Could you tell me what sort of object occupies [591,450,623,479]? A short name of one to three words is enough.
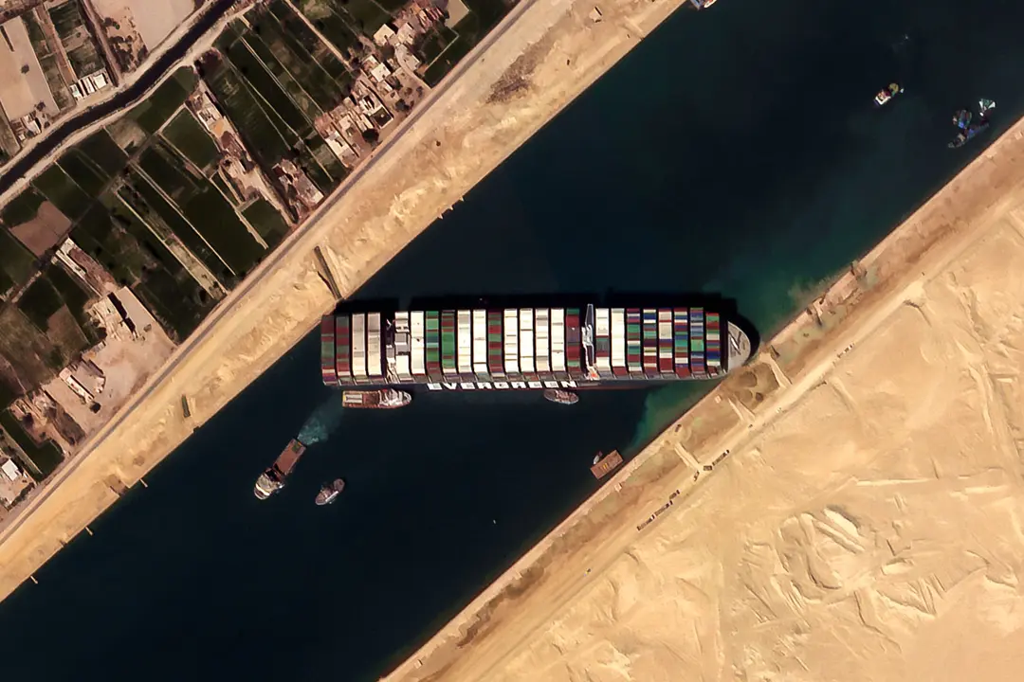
ship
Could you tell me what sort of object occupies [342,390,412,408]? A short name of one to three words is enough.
vessel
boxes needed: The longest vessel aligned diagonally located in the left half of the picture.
[257,437,306,500]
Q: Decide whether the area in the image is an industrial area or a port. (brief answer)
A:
port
